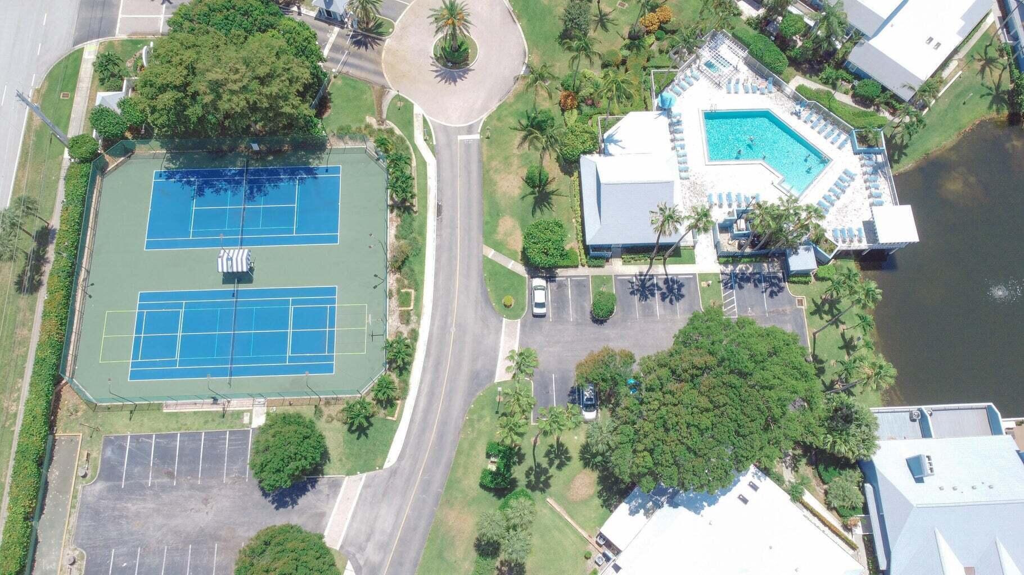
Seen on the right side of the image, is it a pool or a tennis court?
pool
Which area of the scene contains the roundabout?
top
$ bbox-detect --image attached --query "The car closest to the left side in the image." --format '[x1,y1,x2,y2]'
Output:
[531,276,549,315]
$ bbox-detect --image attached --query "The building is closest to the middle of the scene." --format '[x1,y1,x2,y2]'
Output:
[580,154,684,259]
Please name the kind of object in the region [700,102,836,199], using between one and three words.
swimming pool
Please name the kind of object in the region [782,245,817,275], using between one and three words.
shed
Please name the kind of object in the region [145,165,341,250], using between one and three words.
tennis court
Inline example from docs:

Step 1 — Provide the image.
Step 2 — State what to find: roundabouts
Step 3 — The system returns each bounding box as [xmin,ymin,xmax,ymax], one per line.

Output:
[381,0,529,127]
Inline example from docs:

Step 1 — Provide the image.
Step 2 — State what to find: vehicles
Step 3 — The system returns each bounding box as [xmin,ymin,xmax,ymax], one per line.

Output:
[580,380,600,421]
[531,276,549,315]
